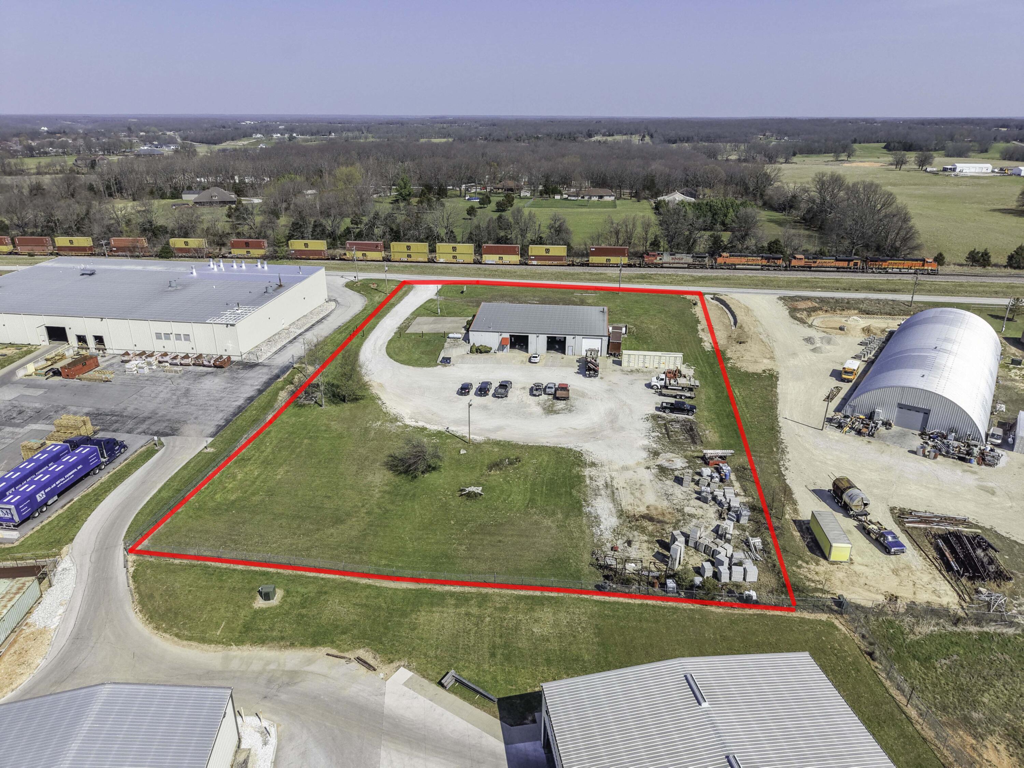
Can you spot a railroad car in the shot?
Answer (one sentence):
Yes, I can see a railroad car in this picture.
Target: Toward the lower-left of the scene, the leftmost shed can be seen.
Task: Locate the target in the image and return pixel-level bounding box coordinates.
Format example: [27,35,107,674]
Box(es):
[0,573,44,650]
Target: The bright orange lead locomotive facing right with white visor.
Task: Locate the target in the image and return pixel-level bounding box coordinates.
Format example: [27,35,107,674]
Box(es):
[868,253,940,270]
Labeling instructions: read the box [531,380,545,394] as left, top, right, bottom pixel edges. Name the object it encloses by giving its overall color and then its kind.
gray vehicle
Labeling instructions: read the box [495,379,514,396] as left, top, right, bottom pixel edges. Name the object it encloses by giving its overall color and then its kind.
gray vehicle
